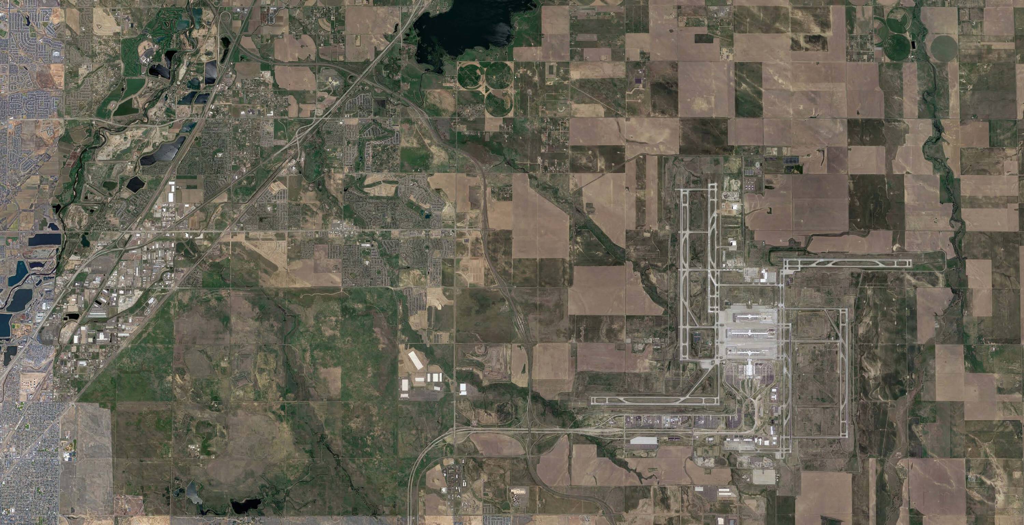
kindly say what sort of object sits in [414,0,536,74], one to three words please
pond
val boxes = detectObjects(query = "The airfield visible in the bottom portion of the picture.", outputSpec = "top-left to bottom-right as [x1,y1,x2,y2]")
[591,183,912,460]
